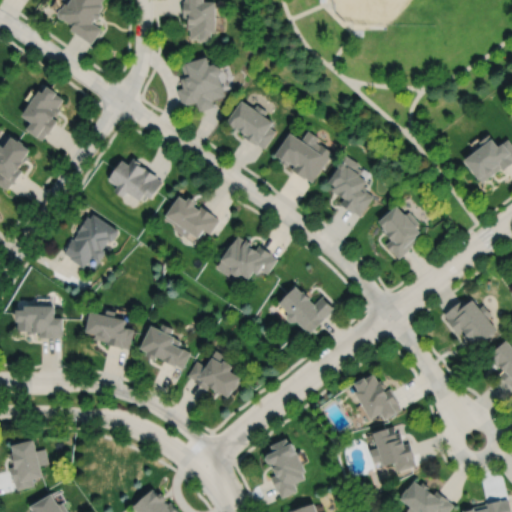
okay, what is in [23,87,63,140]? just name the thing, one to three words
house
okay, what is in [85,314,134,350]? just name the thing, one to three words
house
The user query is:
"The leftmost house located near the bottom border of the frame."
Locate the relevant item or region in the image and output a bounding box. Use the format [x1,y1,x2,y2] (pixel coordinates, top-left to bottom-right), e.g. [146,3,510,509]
[12,441,50,491]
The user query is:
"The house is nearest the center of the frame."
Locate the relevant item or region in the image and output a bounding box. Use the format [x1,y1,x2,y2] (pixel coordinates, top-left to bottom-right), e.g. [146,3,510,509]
[214,238,278,283]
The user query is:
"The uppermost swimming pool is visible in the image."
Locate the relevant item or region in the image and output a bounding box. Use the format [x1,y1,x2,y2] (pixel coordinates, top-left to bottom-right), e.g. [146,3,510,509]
[324,400,353,431]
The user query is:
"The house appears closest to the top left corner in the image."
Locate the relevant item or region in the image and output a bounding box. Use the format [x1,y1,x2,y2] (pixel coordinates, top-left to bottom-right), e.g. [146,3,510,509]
[58,0,105,44]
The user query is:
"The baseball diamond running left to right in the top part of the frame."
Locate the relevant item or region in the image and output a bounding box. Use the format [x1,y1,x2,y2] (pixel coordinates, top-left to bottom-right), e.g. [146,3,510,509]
[331,0,436,28]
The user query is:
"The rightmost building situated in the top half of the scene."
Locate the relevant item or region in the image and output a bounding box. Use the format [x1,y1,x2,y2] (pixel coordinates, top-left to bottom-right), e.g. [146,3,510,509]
[464,138,512,182]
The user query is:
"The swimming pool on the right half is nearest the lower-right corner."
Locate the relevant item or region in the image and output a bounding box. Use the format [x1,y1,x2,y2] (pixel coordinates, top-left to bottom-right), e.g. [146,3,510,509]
[345,439,376,476]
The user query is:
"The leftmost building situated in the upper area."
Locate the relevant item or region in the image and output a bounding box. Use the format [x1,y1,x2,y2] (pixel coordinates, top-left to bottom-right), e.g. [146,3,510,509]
[0,138,28,189]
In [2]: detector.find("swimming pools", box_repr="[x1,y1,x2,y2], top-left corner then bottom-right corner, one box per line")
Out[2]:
[345,439,376,476]
[324,400,353,431]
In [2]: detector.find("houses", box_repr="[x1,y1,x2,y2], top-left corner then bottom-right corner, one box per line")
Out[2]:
[30,488,78,512]
[58,0,105,44]
[133,488,188,512]
[0,138,28,189]
[12,441,50,491]
[396,482,454,512]
[462,501,512,512]
[464,138,512,182]
[140,326,192,368]
[108,159,162,205]
[16,306,64,339]
[445,300,496,342]
[229,102,276,151]
[326,156,376,214]
[378,208,420,259]
[182,0,216,43]
[266,441,308,498]
[214,238,278,283]
[85,314,134,350]
[276,132,331,182]
[372,428,416,474]
[354,377,402,420]
[23,87,63,140]
[180,58,229,111]
[279,286,334,330]
[64,214,116,268]
[166,197,218,240]
[190,352,240,396]
[494,336,512,385]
